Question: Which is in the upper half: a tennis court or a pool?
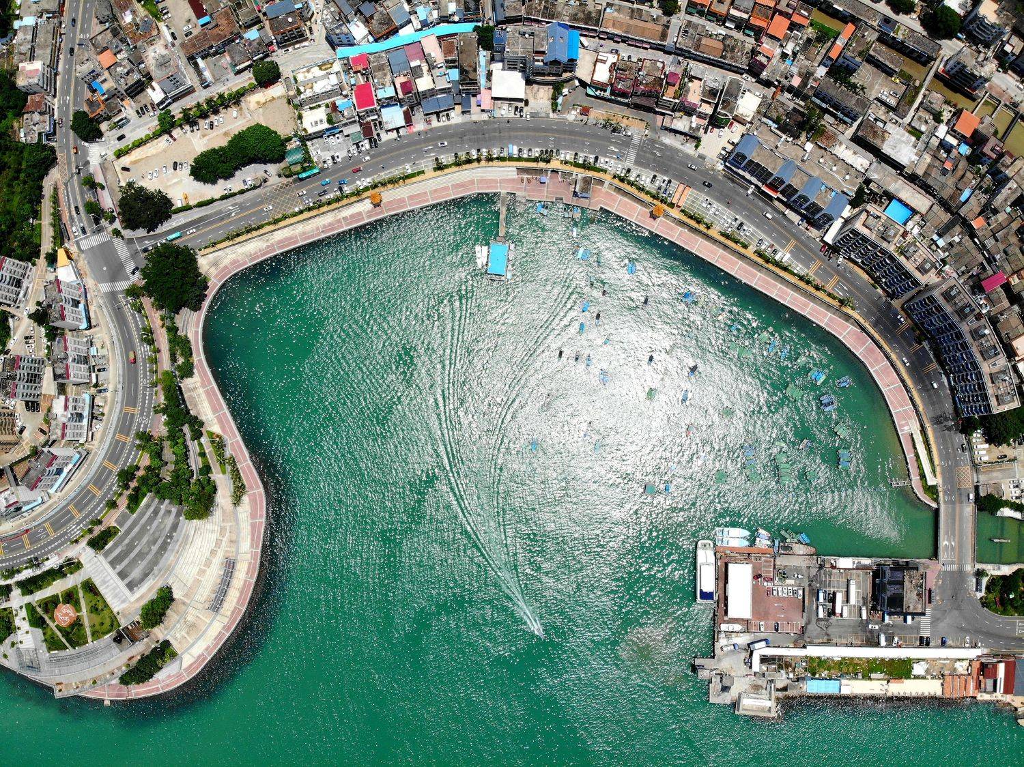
pool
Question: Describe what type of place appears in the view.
residential area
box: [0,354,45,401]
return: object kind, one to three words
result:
building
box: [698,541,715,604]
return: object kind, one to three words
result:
ship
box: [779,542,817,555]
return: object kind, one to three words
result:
ship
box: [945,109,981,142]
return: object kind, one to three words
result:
house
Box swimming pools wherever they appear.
[879,197,916,227]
